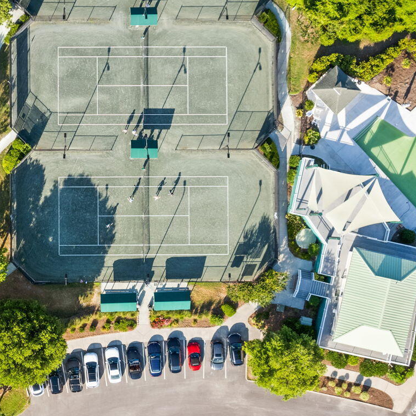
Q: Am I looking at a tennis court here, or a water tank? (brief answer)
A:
tennis court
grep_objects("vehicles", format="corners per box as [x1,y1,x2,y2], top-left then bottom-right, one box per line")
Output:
[45,360,63,395]
[187,341,203,372]
[126,347,142,380]
[210,340,226,372]
[29,369,44,397]
[105,346,122,384]
[166,338,183,373]
[66,357,84,395]
[146,342,163,377]
[83,353,99,389]
[228,333,245,366]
